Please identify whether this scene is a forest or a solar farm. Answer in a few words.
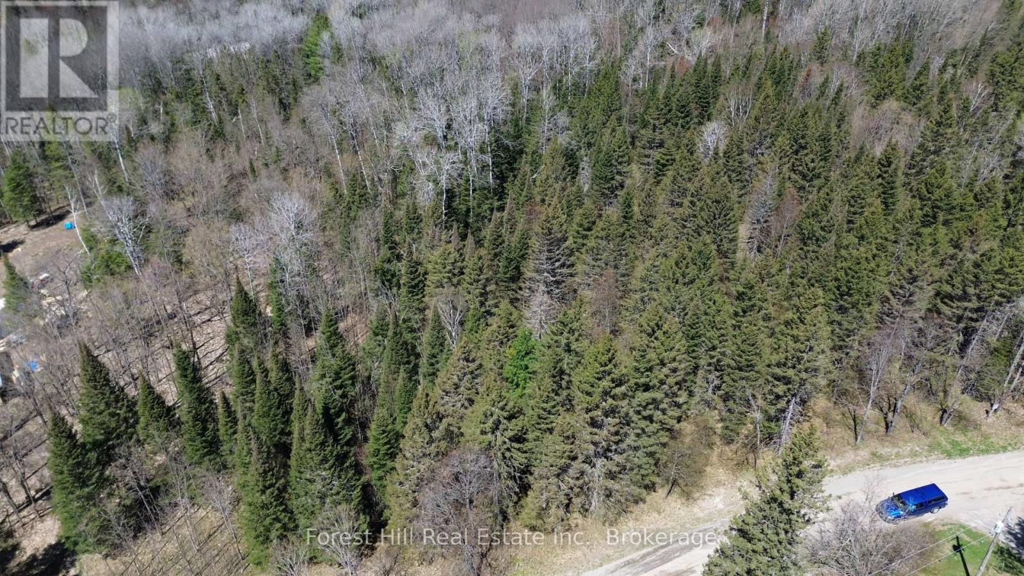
forest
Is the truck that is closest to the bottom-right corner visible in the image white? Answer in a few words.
No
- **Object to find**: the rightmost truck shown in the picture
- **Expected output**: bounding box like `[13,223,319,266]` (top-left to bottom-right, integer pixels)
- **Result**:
[877,482,949,523]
